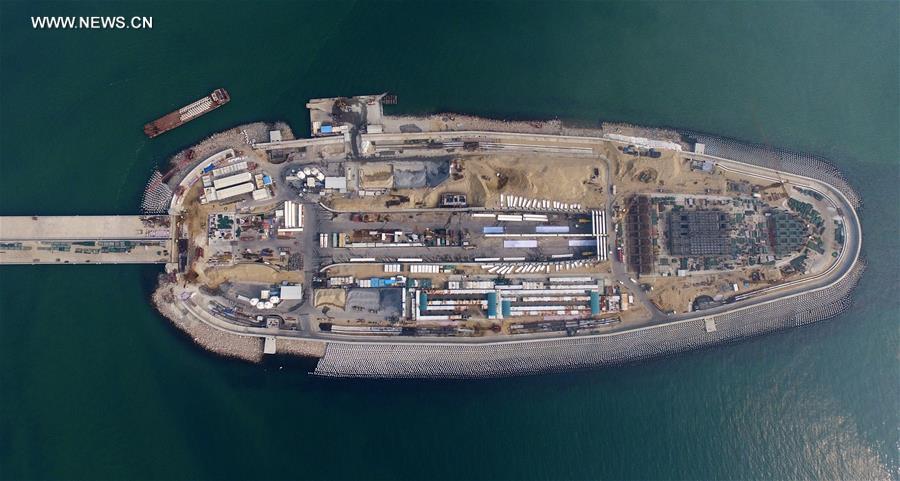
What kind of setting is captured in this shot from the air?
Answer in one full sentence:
What you see here is a port.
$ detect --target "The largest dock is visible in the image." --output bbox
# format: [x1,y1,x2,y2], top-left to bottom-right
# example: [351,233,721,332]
[305,95,383,139]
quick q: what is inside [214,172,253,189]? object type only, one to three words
building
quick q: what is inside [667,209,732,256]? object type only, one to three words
building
